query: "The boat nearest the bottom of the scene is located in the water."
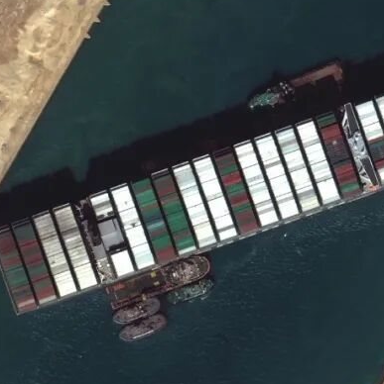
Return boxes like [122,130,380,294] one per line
[118,316,166,342]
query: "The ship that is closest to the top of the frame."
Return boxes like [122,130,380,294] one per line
[290,63,341,87]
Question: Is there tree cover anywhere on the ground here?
No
